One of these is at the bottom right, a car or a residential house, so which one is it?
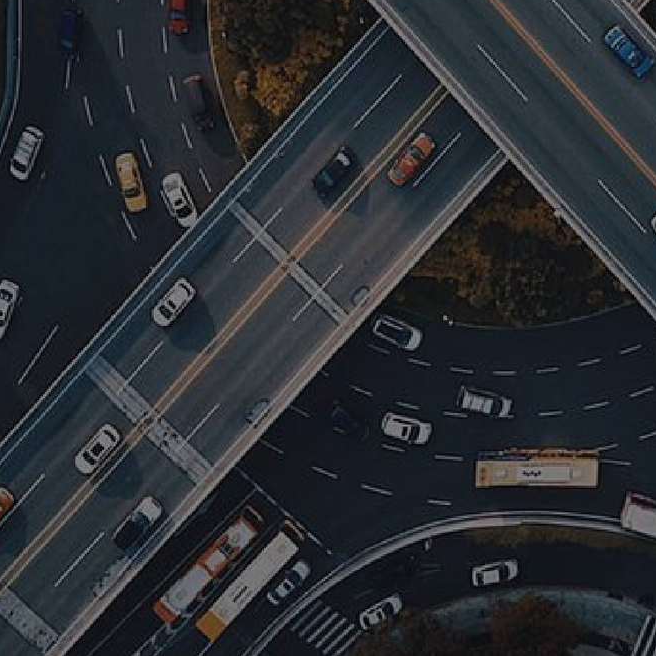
car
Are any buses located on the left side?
Yes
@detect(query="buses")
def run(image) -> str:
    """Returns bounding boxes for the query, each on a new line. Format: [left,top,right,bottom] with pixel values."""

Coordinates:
[617,494,656,539]
[195,523,306,642]
[476,452,602,488]
[154,505,267,622]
